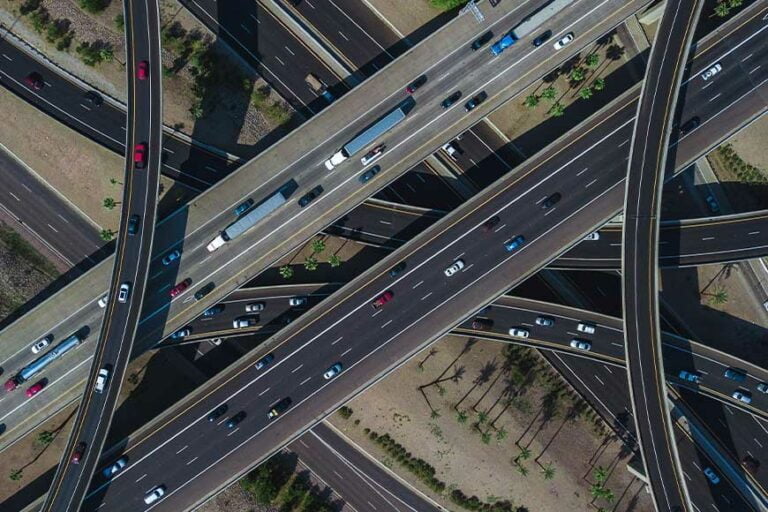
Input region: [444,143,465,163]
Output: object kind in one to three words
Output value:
vehicle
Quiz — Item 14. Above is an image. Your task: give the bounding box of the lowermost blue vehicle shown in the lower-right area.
[704,466,719,484]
